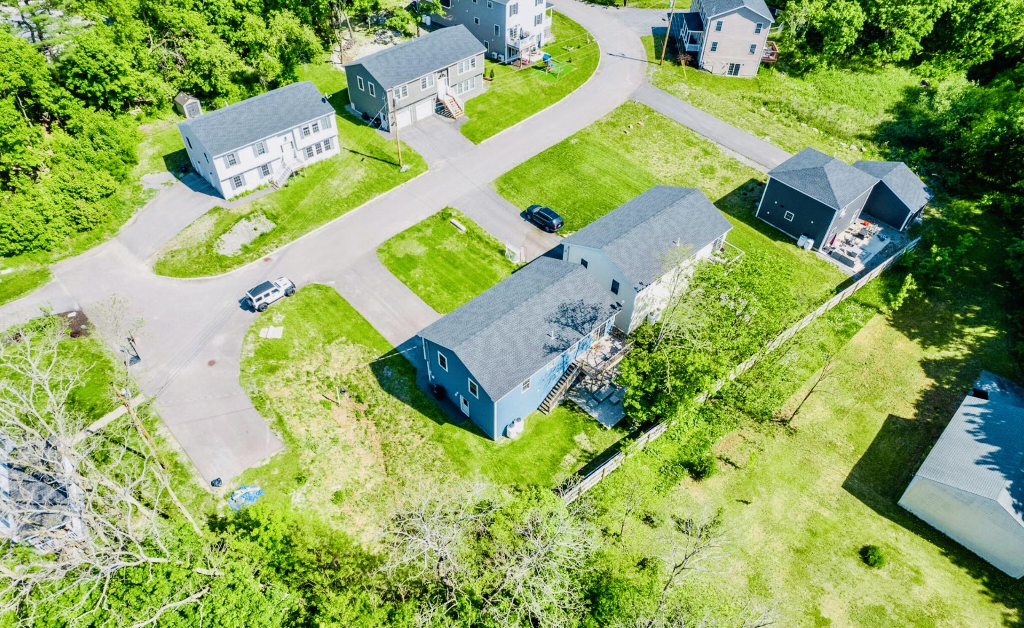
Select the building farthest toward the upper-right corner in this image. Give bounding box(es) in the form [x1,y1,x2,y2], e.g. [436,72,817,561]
[849,158,935,230]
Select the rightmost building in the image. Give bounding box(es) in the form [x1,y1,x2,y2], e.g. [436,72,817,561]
[898,396,1024,579]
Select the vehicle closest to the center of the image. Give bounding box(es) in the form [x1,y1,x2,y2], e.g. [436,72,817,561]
[524,203,565,232]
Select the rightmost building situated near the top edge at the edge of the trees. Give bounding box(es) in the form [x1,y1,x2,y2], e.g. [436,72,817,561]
[682,0,774,74]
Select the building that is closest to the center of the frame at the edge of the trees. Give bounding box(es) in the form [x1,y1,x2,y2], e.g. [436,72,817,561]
[418,256,620,441]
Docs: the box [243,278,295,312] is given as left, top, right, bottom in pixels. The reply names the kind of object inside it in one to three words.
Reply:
car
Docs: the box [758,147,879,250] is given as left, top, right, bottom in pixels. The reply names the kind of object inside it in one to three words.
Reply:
house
